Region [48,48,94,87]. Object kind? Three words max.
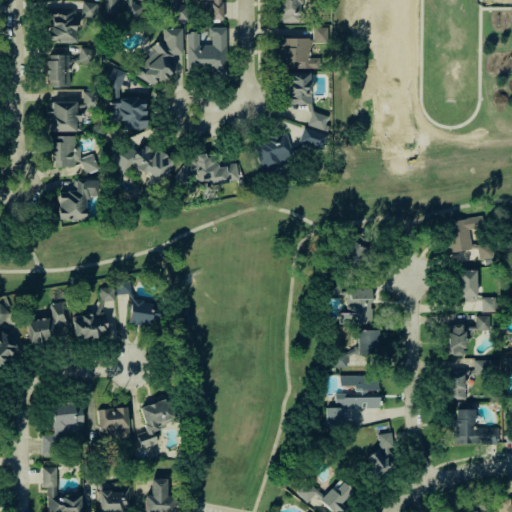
house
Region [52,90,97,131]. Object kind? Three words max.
house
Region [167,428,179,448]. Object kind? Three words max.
swimming pool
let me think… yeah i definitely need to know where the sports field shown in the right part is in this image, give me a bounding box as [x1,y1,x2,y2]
[420,0,482,128]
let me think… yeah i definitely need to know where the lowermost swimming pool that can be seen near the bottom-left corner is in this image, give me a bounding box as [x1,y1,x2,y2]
[58,477,80,492]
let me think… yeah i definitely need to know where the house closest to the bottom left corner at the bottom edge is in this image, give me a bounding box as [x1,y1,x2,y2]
[42,468,84,512]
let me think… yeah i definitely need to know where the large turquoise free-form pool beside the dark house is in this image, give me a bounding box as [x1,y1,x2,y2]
[479,406,497,426]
